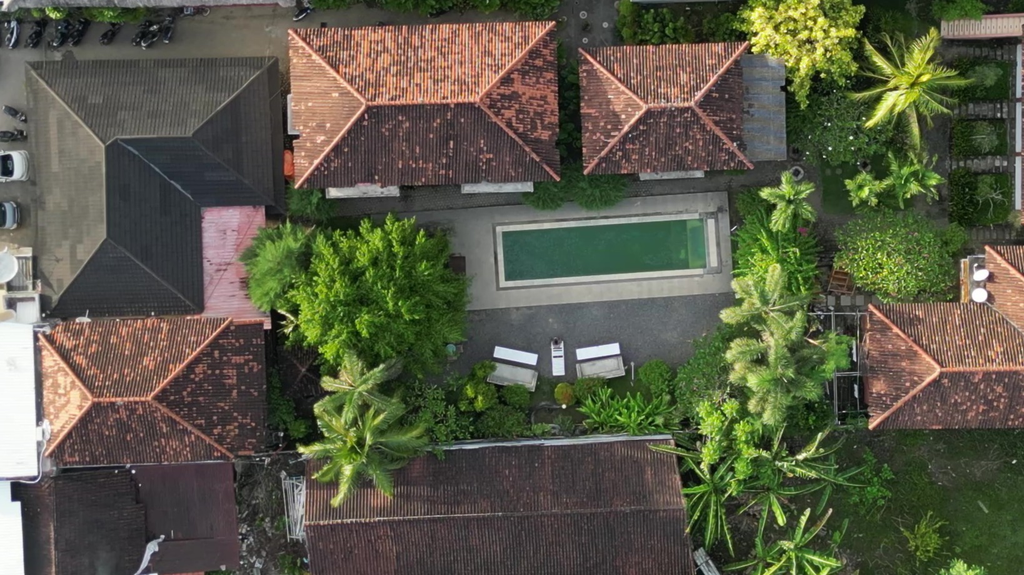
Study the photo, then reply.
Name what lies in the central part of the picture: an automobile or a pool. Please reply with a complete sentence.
Visible in the central part of the picture is a pool.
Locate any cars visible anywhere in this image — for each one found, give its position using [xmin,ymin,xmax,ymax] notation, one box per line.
[0,200,23,229]
[0,145,29,183]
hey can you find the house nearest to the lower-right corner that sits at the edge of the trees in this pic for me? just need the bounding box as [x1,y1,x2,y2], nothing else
[866,245,1024,431]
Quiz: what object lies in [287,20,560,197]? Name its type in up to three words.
house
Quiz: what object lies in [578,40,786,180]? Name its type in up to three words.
house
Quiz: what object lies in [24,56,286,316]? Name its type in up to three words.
building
